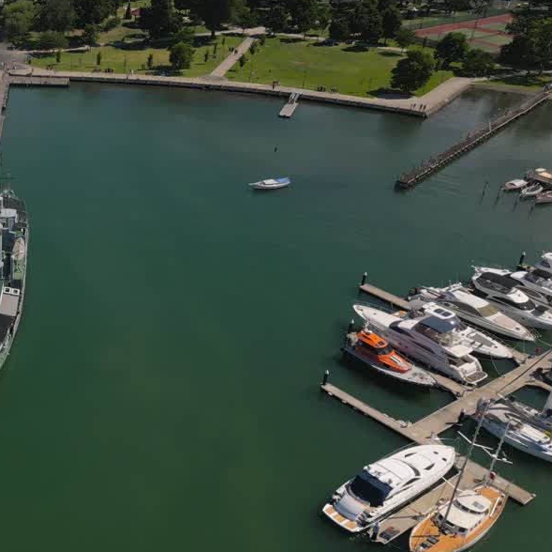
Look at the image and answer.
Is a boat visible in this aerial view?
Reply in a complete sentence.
Yes, the frame does contain a boat.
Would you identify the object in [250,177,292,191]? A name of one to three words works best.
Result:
boat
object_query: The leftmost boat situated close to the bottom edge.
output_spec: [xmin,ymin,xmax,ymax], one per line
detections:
[326,444,456,536]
